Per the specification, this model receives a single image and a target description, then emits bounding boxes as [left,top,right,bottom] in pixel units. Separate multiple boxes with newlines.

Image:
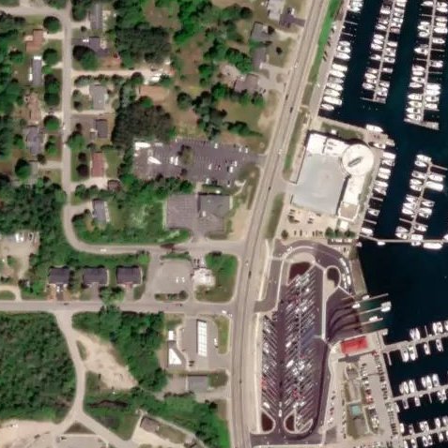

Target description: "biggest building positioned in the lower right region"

[340,335,368,353]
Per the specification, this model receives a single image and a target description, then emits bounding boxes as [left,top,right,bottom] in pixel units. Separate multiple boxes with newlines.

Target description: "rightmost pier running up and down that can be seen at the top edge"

[405,0,448,129]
